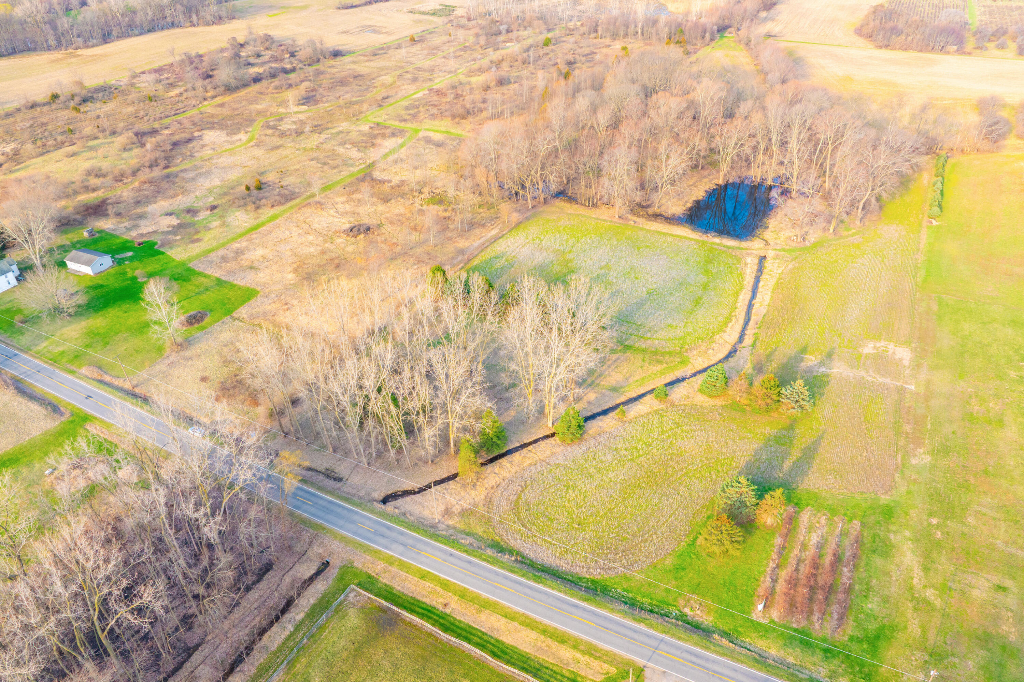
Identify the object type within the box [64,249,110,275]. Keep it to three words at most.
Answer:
building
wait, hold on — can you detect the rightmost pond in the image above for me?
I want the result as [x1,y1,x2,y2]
[680,176,779,241]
